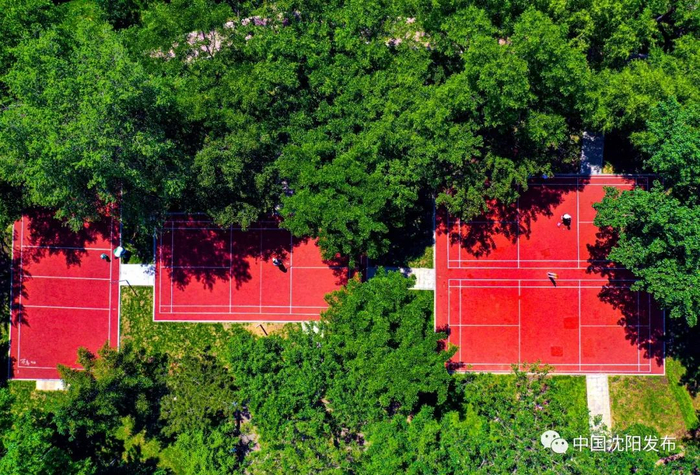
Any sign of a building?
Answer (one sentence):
No, the photo shows no building.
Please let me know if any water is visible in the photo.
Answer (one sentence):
No, there's no water in this view.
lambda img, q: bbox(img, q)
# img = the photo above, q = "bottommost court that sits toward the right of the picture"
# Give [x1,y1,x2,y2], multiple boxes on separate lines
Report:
[434,274,667,376]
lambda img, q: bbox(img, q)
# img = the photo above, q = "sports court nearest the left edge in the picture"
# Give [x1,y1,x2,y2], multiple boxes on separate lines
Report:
[8,185,122,382]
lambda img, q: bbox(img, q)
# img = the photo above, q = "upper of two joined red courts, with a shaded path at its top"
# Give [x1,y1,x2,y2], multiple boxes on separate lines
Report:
[434,174,666,275]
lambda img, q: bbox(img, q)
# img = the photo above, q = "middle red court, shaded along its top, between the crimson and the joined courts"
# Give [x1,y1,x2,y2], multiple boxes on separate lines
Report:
[152,213,368,323]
